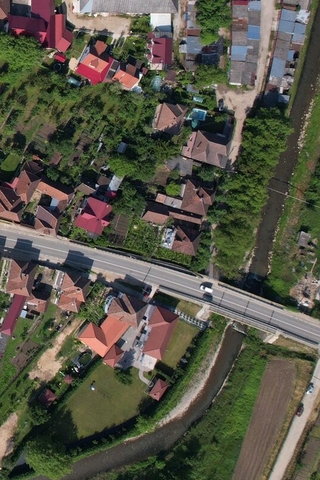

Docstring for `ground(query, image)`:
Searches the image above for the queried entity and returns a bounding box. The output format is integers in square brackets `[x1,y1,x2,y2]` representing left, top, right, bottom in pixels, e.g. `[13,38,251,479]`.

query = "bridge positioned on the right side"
[193,277,320,354]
